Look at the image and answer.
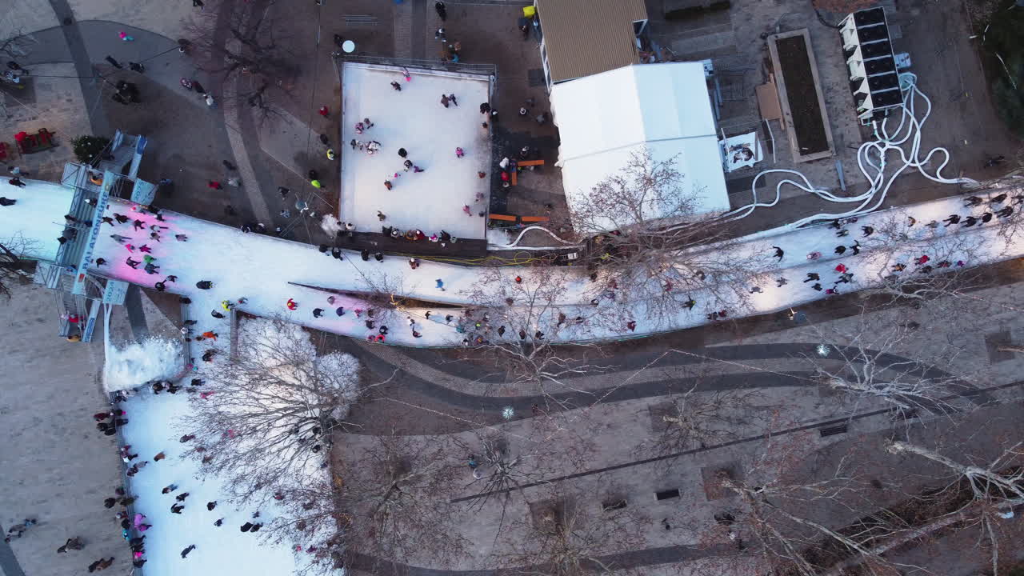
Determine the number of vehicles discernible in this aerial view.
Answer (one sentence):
I count no vehicles.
